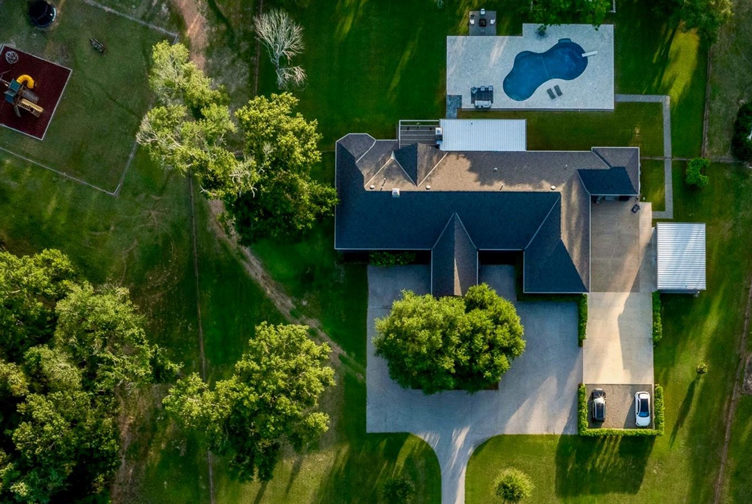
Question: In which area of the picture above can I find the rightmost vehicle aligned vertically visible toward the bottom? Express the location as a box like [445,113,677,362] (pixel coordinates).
[636,392,651,426]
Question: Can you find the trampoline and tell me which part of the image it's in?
top left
